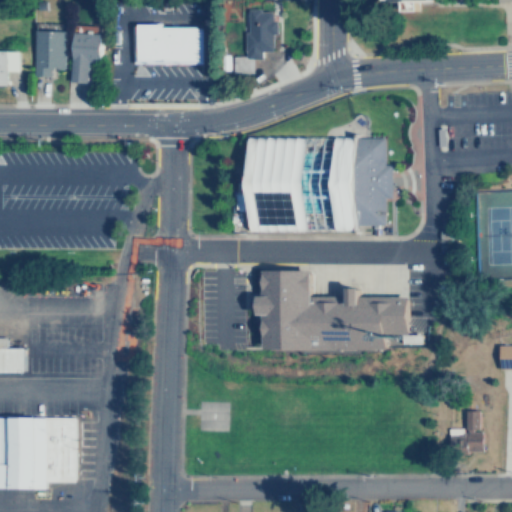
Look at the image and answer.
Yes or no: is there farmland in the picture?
No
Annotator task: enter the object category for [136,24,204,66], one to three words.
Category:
building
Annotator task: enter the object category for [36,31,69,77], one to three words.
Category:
house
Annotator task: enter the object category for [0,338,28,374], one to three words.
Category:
building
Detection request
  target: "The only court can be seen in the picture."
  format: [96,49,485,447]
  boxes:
[476,192,512,276]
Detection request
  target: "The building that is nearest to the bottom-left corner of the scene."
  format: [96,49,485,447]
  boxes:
[0,417,81,490]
